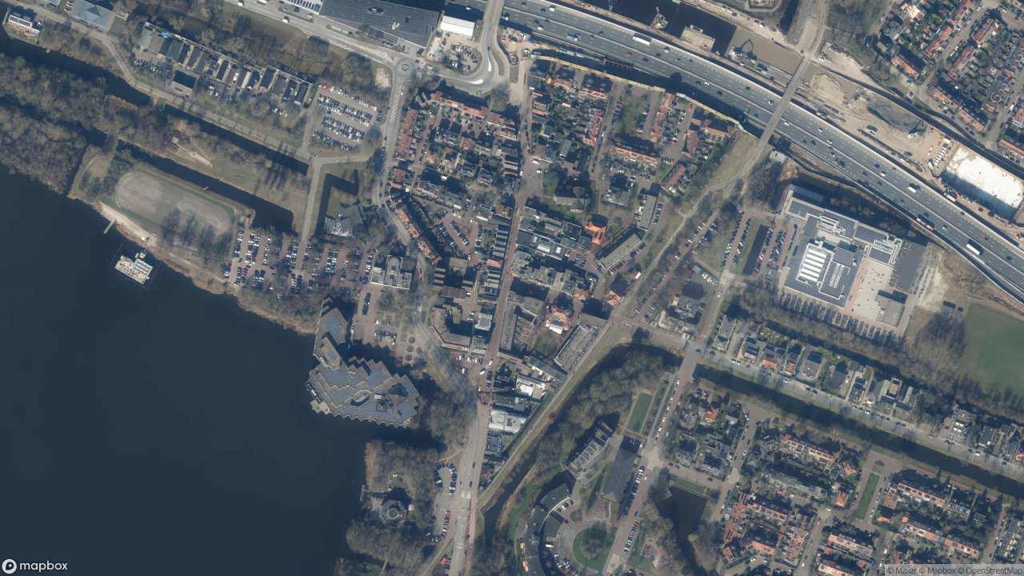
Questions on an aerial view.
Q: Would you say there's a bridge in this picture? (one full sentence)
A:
Yes, a bridge is visible in the scene.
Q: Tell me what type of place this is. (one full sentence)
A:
This image shows a residential area.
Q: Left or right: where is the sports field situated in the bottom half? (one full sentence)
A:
It is on the right.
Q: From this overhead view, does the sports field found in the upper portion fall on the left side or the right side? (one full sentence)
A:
The sports field found in the upper portion appears in the left half of the scene.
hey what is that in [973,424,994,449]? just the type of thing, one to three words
house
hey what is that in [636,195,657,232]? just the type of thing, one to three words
building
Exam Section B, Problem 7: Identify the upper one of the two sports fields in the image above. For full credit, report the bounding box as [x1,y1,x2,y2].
[110,166,242,254]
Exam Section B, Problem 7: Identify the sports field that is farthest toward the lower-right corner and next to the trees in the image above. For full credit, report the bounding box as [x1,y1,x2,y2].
[957,301,1024,398]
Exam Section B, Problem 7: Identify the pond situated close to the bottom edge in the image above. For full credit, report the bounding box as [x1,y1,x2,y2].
[657,485,708,576]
